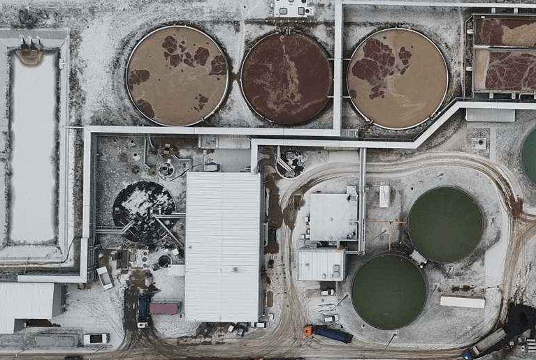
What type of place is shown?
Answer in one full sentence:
This image shows an industrial area.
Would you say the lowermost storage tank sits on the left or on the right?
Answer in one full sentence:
It is on the right.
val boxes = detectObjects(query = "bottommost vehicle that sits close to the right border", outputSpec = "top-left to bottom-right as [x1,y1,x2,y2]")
[463,327,510,360]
